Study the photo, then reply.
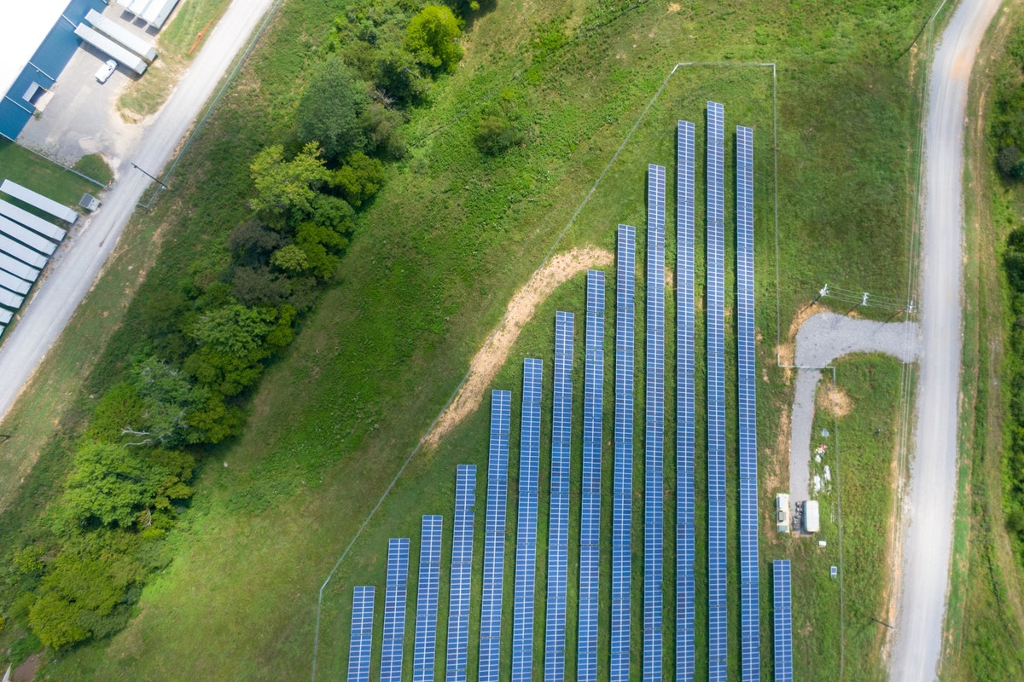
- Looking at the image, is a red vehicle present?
No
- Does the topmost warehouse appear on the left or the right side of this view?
left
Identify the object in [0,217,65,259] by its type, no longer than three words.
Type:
trailer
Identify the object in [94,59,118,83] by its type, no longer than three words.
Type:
truck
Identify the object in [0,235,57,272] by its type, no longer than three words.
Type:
trailer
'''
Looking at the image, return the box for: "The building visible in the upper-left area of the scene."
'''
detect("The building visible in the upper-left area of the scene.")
[0,0,112,139]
